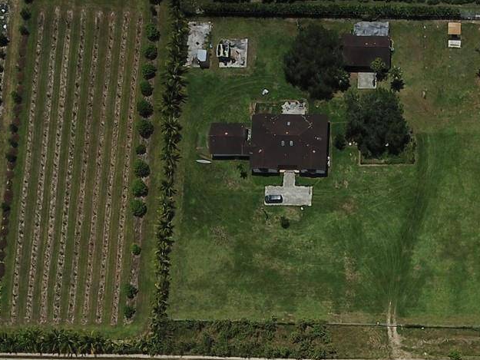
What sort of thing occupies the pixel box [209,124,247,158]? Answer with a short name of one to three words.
building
